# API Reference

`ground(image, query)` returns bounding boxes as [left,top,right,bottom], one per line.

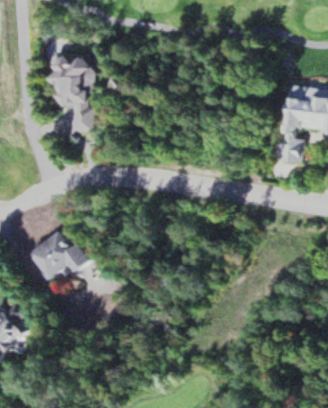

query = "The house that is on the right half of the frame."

[281,83,328,159]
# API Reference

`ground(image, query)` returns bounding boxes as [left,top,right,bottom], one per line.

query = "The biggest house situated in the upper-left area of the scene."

[44,52,96,132]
